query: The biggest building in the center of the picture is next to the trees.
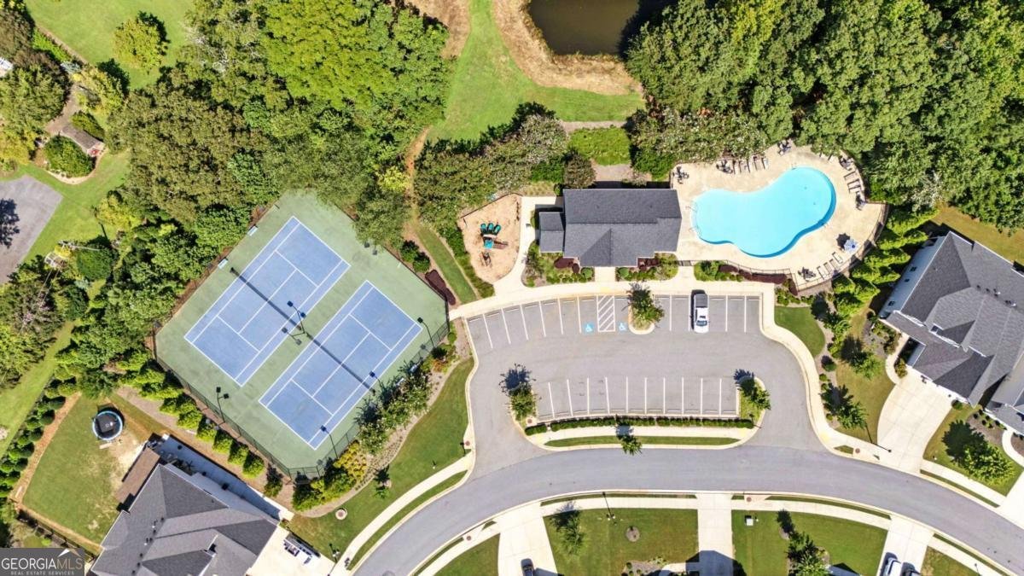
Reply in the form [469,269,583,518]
[539,188,682,267]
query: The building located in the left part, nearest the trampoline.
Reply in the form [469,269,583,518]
[90,460,279,576]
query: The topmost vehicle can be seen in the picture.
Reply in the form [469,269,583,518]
[692,292,709,332]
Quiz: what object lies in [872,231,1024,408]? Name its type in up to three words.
house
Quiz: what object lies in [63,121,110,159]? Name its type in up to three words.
shed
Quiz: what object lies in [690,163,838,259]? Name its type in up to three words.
swimming pool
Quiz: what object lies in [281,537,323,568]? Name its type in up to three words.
truck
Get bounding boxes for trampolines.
[88,411,124,440]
